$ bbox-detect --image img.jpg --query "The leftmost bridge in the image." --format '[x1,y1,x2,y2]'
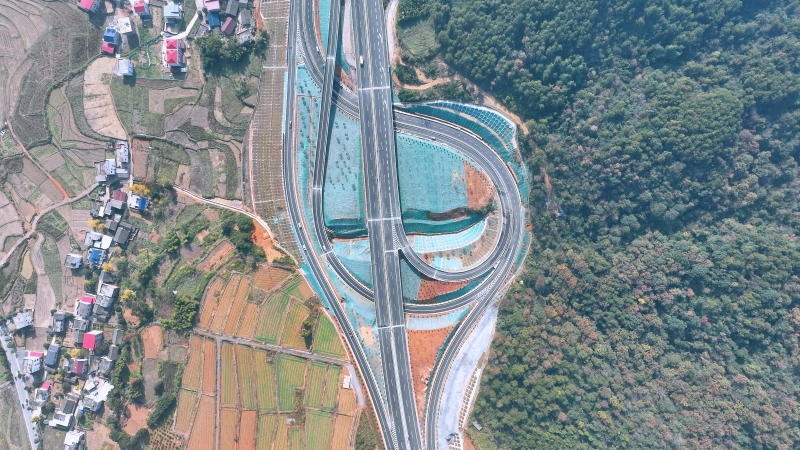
[313,0,341,252]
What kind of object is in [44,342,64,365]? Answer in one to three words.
house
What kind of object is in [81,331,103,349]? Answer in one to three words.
house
